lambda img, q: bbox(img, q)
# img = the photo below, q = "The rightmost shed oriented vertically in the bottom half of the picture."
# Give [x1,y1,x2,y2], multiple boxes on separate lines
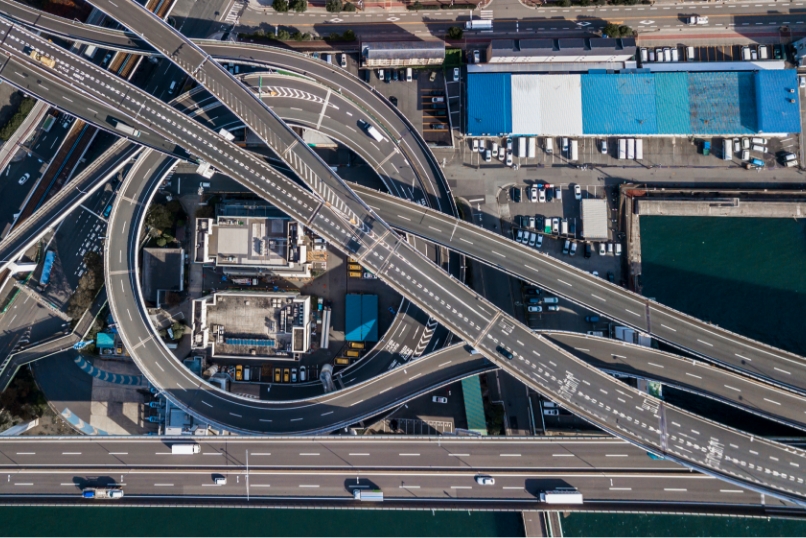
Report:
[460,373,487,434]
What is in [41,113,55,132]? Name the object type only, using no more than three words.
vehicle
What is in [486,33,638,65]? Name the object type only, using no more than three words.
building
